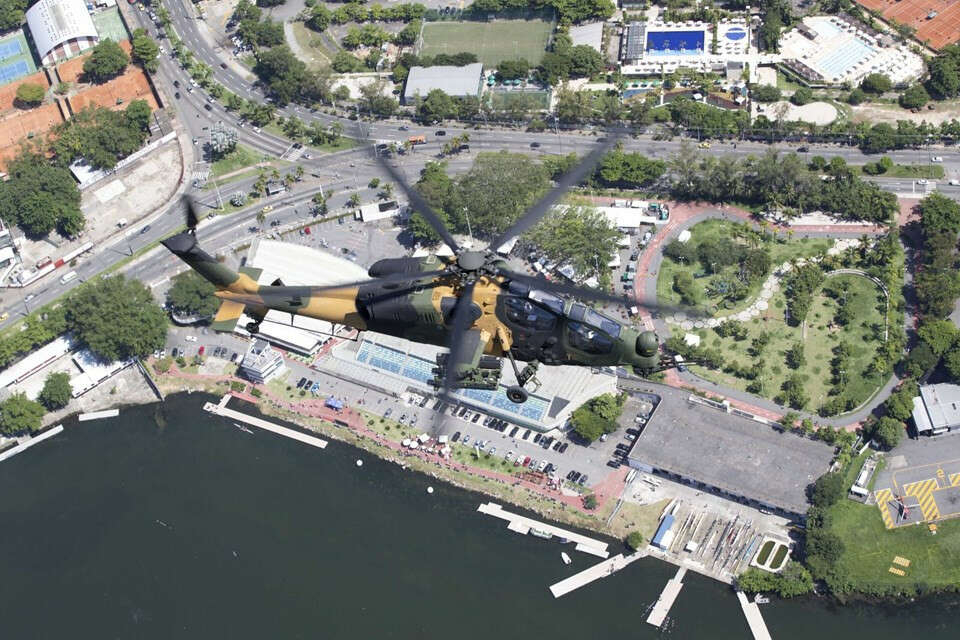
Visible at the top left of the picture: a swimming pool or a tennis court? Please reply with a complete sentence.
You can see a tennis court at the top left of the picture.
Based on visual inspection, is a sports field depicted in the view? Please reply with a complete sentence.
Yes, I can see a sports field in this picture.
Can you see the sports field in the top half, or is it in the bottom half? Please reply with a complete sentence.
The sports field sits in the top half of the picture.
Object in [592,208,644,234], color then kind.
white tent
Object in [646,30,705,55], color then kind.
blue swimming pool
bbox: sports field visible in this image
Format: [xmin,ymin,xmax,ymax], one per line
[418,20,552,67]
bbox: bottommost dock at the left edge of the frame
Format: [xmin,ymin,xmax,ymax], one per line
[0,425,65,464]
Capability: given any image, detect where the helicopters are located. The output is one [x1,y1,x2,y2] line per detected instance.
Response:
[888,490,913,512]
[161,130,714,430]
